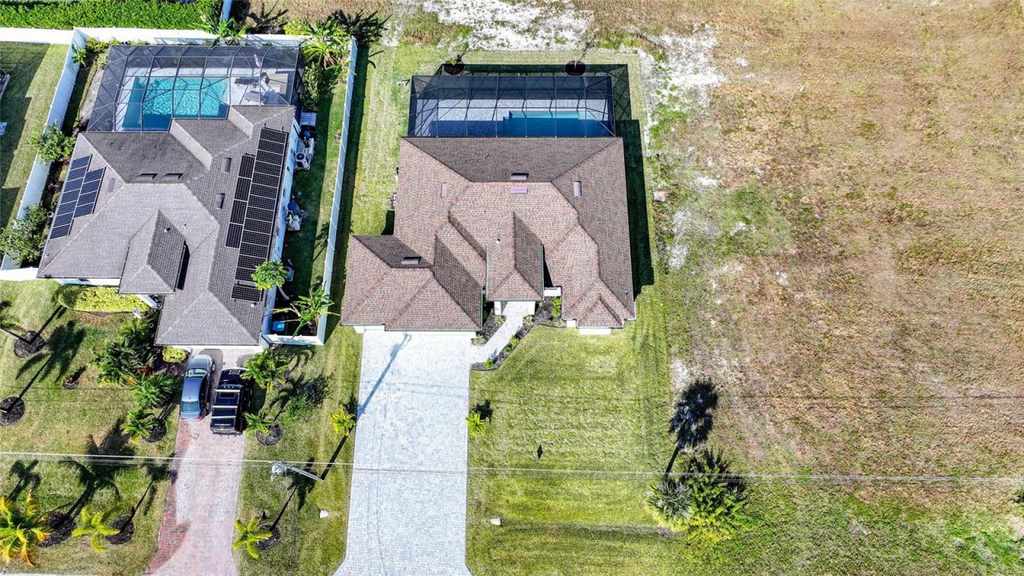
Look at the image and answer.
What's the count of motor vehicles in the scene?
two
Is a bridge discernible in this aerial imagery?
No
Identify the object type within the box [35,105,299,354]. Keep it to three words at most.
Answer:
house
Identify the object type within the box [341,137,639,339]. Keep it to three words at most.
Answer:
house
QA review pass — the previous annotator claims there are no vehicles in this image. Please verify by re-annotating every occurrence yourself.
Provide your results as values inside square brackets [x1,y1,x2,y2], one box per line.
[178,353,216,422]
[211,367,257,439]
